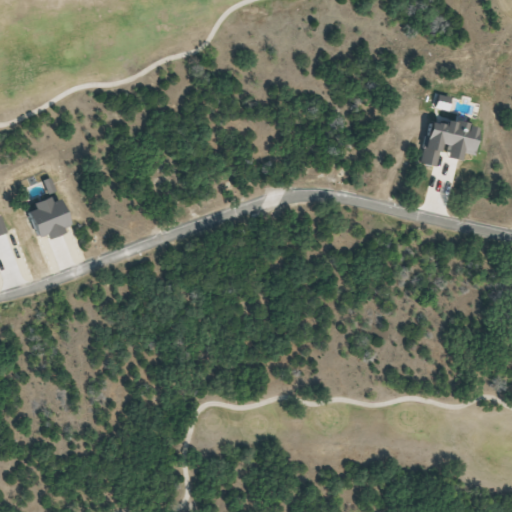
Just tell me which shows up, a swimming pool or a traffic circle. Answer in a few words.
swimming pool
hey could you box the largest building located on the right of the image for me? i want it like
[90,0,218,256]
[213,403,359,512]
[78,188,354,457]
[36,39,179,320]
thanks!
[420,120,480,168]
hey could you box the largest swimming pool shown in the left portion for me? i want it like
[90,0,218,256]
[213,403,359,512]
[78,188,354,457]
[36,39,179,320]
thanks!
[27,182,48,203]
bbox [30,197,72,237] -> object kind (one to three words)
house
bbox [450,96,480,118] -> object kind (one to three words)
swimming pool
